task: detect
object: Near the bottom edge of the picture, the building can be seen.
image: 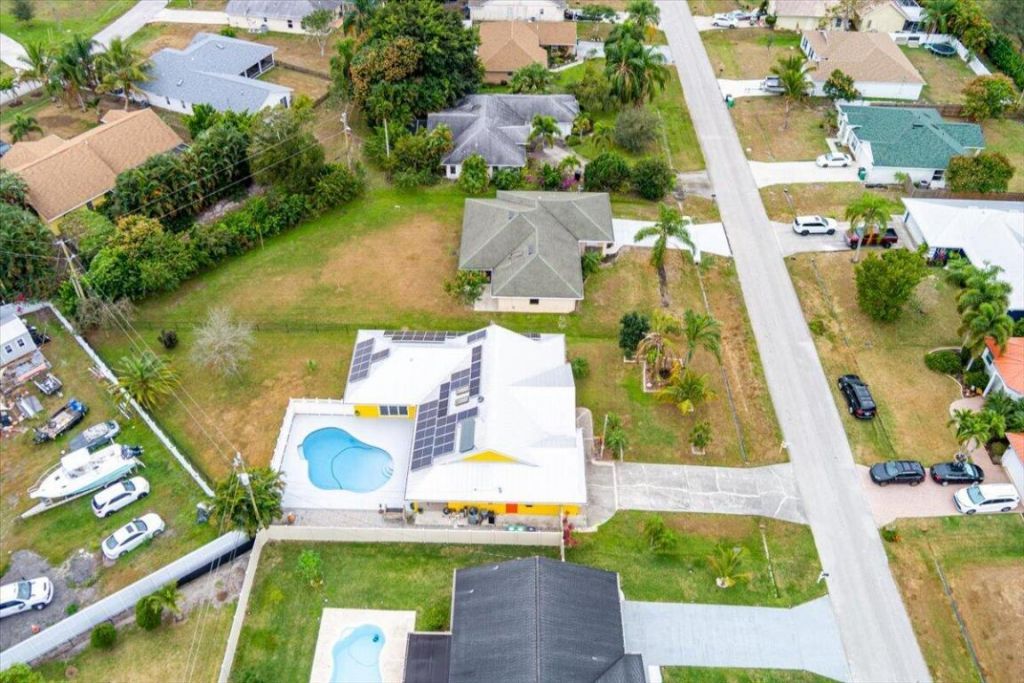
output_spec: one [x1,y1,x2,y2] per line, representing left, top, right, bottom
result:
[395,556,650,683]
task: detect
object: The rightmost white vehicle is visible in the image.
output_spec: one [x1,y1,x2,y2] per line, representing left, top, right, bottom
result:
[950,483,1024,513]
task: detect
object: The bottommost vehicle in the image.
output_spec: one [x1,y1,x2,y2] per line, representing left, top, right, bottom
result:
[0,576,65,623]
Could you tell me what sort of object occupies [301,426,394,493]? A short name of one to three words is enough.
swimming pool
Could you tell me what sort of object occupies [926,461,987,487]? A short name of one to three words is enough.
car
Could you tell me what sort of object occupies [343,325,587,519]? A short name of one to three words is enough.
house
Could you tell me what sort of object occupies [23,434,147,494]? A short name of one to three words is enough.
boat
